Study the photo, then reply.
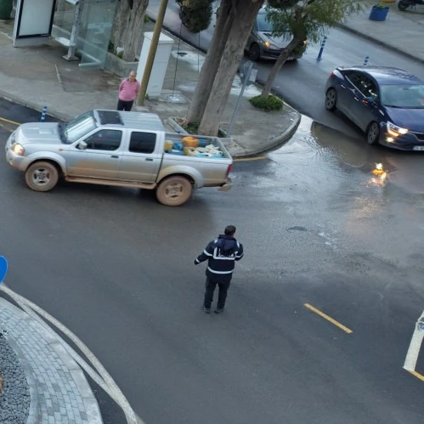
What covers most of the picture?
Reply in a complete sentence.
The scene is dominated by paved ground.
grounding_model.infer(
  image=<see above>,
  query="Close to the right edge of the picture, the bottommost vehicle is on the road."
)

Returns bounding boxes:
[320,61,424,152]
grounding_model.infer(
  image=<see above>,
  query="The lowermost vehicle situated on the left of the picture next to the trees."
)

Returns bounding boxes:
[7,106,242,205]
